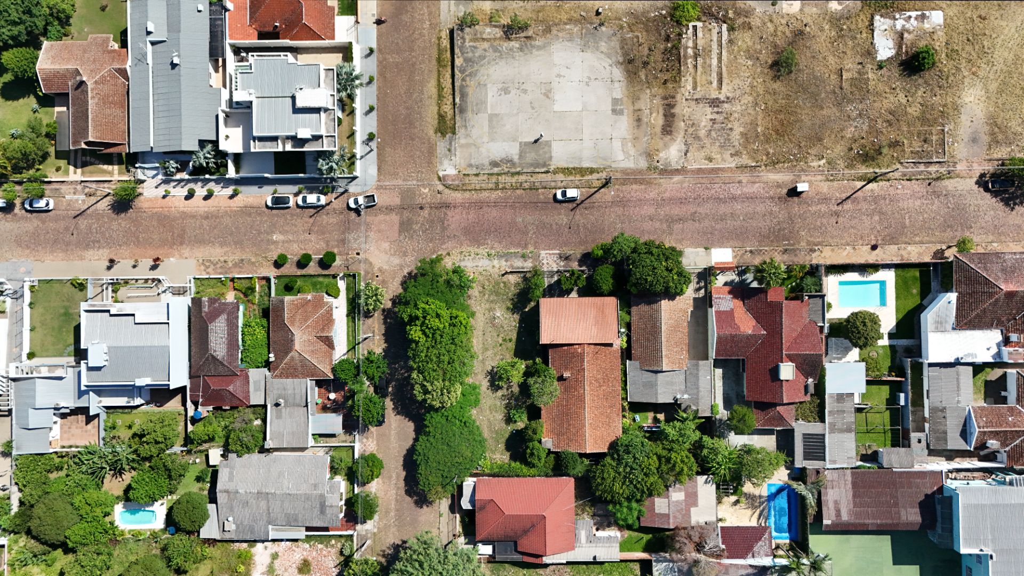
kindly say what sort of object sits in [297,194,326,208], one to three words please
car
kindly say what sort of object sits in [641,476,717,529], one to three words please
house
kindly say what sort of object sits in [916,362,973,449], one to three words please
shed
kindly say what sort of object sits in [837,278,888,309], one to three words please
swimming pool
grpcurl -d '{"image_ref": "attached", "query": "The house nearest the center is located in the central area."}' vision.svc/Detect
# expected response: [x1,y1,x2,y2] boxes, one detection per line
[540,297,619,344]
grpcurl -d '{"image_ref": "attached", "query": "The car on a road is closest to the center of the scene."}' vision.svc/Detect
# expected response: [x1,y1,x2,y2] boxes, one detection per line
[553,188,580,202]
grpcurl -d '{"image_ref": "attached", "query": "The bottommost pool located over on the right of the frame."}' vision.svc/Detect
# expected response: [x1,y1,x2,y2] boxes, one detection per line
[768,483,798,540]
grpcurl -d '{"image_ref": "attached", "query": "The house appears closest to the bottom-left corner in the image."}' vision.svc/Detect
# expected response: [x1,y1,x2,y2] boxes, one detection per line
[8,361,97,453]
